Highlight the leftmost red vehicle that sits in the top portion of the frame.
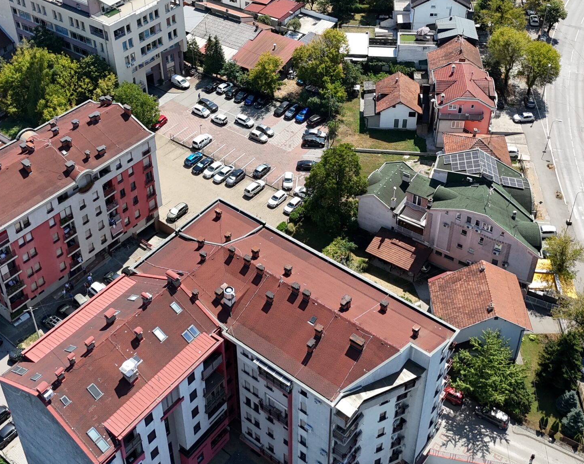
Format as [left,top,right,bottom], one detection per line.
[152,115,169,130]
